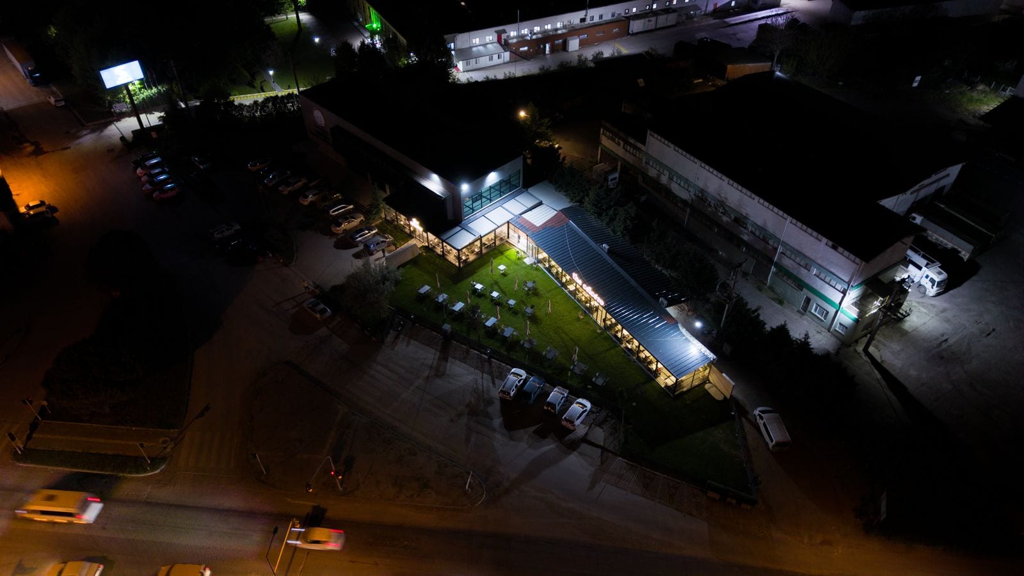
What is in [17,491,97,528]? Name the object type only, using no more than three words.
vehicle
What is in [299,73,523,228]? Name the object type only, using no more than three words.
building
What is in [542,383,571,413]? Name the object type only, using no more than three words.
car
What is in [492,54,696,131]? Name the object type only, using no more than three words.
shed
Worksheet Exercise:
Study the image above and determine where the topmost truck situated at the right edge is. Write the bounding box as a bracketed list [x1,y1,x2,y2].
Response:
[914,212,991,265]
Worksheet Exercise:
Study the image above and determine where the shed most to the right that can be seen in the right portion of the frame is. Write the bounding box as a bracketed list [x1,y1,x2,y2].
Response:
[981,90,1024,141]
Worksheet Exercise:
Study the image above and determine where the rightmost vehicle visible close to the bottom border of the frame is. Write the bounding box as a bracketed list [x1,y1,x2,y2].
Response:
[288,526,342,554]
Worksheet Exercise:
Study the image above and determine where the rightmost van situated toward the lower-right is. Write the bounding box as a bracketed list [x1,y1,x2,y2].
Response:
[754,408,792,451]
